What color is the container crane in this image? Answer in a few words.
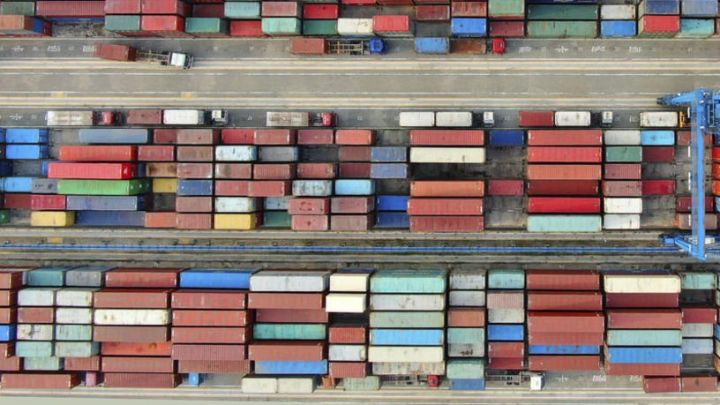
blue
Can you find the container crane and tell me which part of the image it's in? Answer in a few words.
right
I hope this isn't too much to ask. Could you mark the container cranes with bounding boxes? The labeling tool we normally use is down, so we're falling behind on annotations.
[658,86,720,262]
